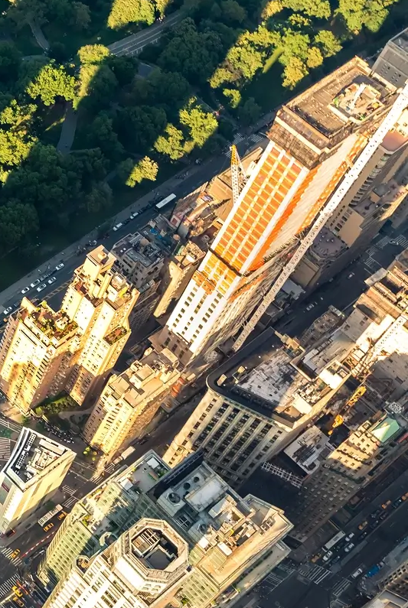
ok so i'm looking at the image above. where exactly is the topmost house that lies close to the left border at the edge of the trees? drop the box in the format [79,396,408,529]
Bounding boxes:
[0,239,138,407]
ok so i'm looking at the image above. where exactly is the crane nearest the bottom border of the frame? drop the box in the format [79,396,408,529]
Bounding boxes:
[324,385,369,441]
